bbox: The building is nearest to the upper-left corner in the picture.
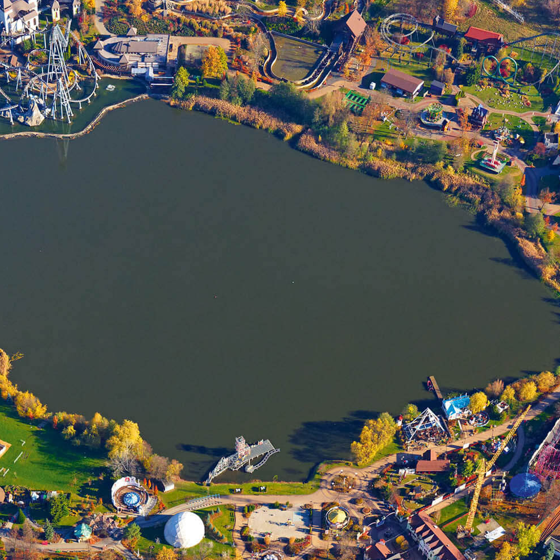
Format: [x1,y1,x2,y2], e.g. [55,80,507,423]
[0,0,42,34]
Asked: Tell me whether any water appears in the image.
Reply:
Yes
